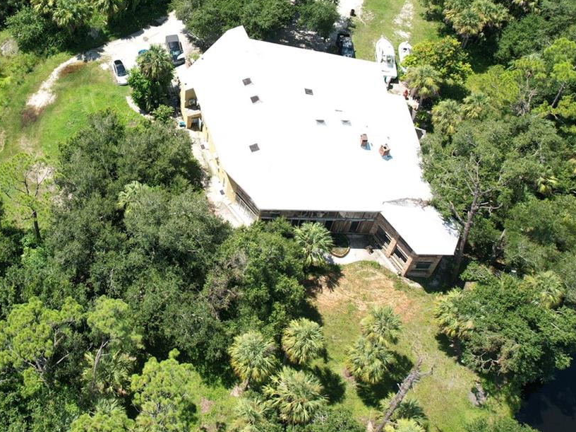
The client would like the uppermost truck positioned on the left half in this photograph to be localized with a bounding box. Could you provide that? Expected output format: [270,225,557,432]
[164,35,189,64]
